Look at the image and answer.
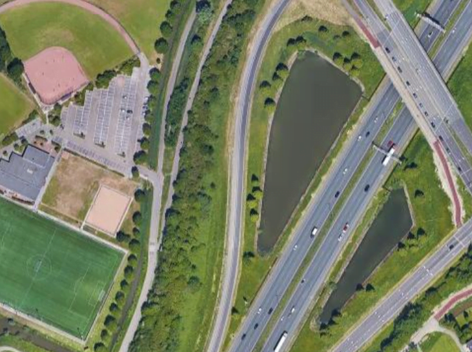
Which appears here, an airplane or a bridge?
bridge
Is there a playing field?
Yes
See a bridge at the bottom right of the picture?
No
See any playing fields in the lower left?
Yes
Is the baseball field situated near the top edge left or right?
left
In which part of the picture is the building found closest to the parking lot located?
left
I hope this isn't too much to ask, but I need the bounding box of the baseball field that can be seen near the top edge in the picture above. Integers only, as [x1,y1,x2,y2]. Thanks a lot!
[0,0,141,115]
